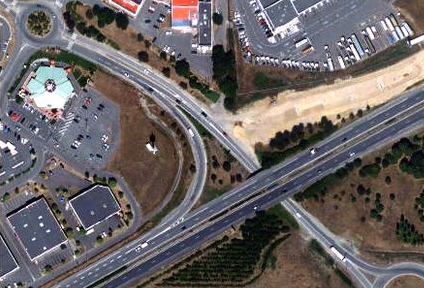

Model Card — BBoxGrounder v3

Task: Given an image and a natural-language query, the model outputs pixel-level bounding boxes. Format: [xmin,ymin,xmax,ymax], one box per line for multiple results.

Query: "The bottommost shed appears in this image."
[0,235,19,279]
